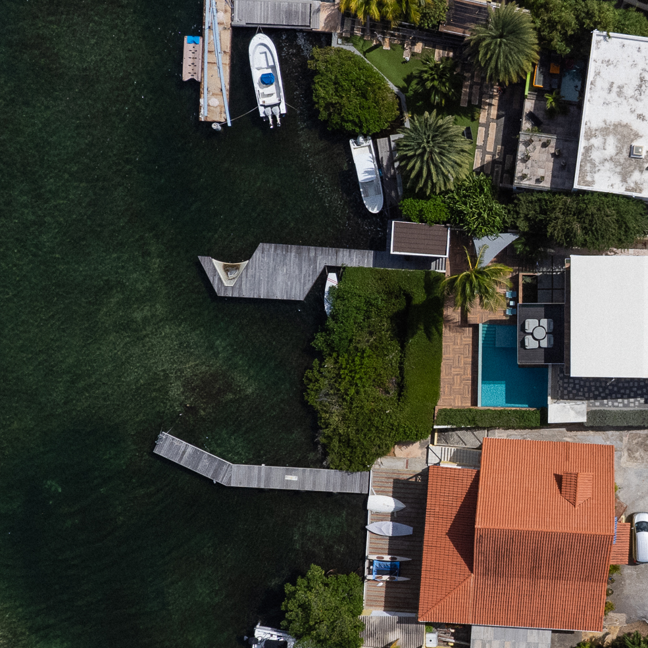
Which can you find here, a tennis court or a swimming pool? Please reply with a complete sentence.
It is a swimming pool that can be seen here.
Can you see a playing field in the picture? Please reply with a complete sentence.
No, there is no playing field in the image.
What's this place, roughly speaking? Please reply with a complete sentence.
This looks like a residential area.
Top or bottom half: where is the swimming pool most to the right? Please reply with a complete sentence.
It is in the top half that the swimming pool most to the right appears.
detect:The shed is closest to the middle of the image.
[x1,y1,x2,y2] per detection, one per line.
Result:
[389,220,451,259]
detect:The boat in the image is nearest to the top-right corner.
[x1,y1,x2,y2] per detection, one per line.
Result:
[348,127,381,212]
